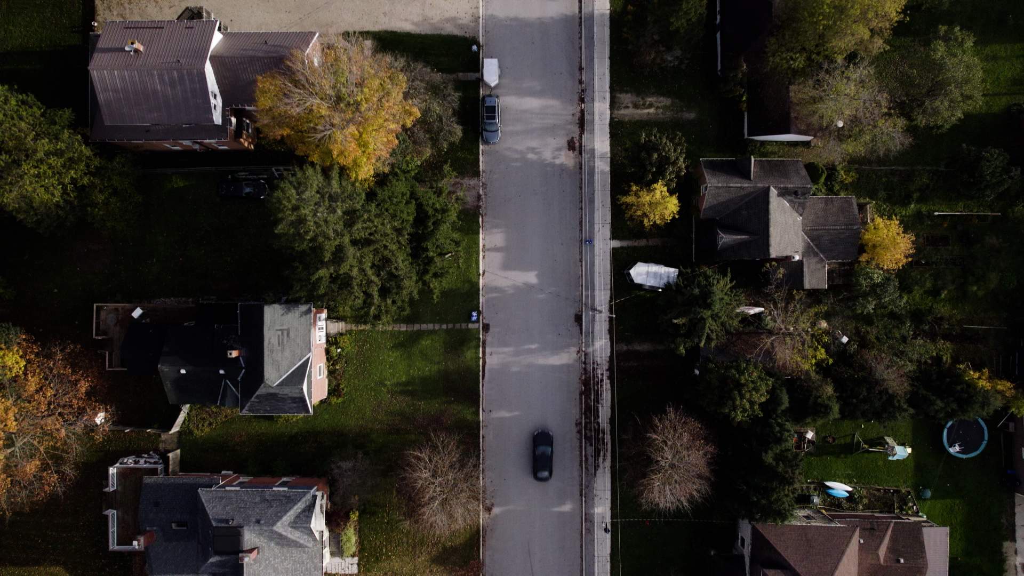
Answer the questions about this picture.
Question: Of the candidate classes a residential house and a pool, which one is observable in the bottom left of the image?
residential house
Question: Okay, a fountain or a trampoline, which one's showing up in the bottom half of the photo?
trampoline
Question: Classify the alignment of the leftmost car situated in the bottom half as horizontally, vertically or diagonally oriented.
vertically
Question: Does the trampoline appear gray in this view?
No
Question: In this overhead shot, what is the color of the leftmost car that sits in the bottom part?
black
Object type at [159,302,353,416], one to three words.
house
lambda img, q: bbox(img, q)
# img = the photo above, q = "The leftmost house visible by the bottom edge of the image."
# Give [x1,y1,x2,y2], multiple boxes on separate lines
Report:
[134,470,342,576]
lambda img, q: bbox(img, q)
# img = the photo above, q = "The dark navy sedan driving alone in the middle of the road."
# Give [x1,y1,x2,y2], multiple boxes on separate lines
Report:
[532,431,555,484]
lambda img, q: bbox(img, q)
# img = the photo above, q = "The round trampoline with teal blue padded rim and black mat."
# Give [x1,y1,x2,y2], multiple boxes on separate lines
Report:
[939,416,987,460]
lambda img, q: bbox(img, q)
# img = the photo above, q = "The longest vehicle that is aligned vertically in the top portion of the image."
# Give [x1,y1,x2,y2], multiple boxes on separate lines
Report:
[480,92,503,144]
